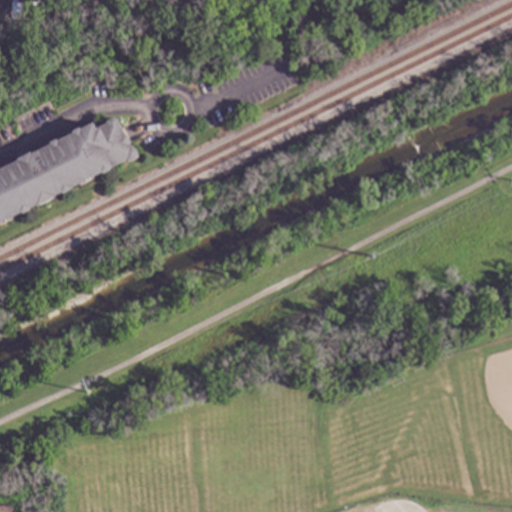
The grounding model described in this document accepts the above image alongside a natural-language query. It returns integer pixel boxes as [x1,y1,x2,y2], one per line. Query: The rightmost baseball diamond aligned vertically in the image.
[485,350,512,430]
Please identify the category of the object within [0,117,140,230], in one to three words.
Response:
building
